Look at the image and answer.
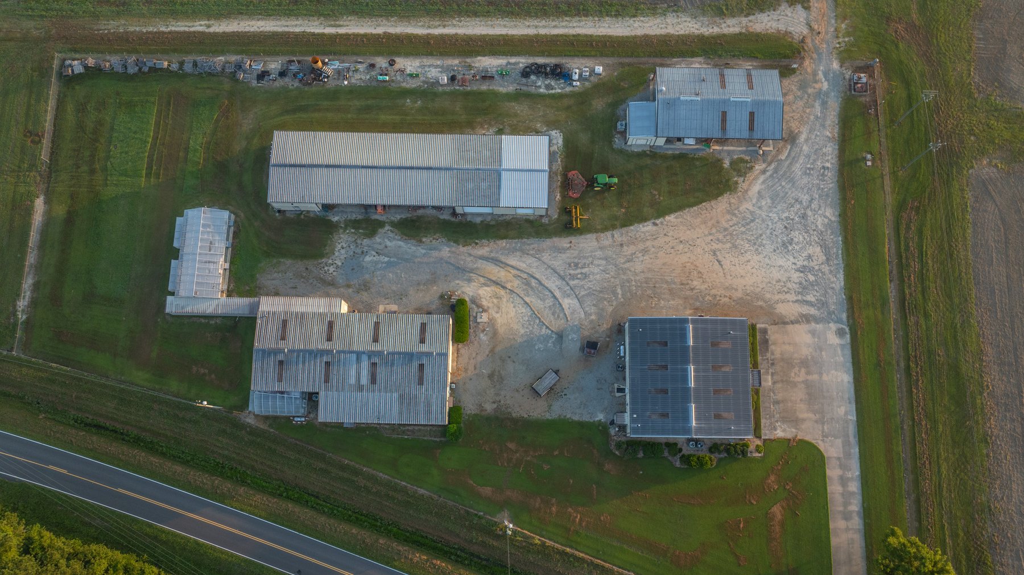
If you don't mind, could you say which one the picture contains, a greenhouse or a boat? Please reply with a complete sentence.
The image shows a greenhouse.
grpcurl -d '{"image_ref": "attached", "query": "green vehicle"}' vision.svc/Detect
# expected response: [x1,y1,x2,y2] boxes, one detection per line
[596,173,617,188]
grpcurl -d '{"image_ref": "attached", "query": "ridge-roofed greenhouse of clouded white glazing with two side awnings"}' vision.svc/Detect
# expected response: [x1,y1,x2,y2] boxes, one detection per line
[168,206,235,298]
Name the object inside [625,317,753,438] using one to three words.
building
